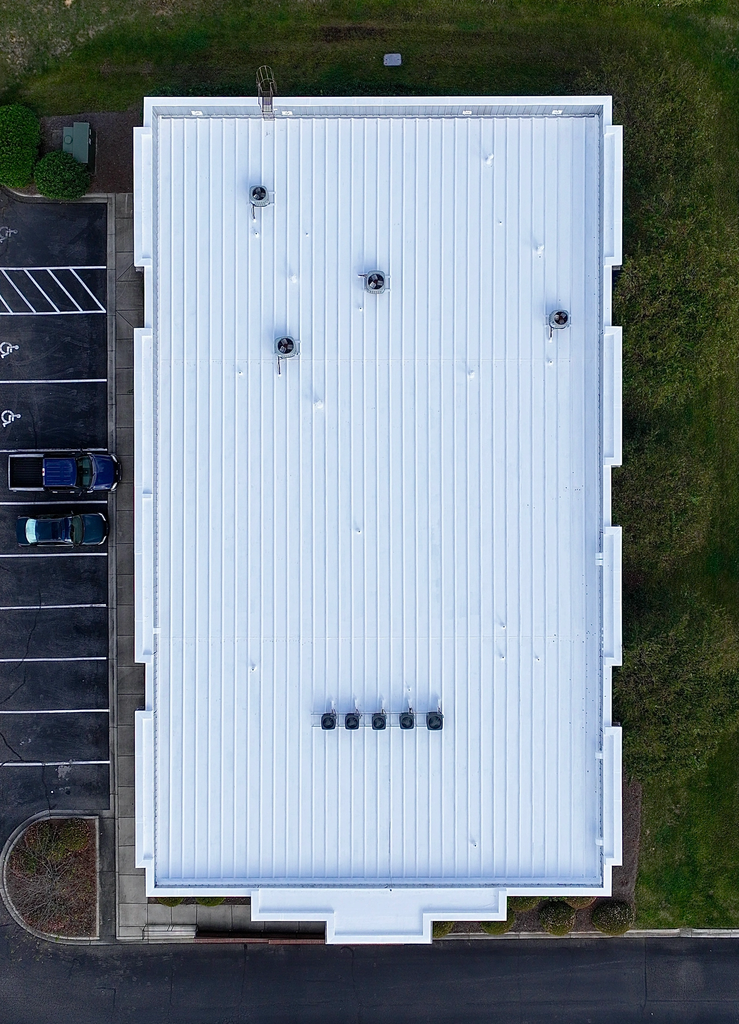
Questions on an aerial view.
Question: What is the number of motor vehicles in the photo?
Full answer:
Looking from above, you can make out 2 motor vehicles.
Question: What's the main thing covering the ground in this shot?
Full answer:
The largest share of the image is taken up by buildings.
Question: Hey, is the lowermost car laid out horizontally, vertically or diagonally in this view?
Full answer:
In this picture, the lowermost car lies horizontally.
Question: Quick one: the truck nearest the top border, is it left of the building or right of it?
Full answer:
Relative to the building, the truck nearest the top border lies to the left.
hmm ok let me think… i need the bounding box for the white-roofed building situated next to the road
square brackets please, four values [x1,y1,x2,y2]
[134,96,623,944]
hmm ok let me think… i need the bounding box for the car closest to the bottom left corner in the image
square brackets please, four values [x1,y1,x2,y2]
[16,510,111,550]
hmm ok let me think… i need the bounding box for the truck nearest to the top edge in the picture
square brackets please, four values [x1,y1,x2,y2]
[7,448,124,497]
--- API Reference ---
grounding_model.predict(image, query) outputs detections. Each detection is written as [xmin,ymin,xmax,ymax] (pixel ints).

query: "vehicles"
[7,448,124,497]
[16,510,111,550]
